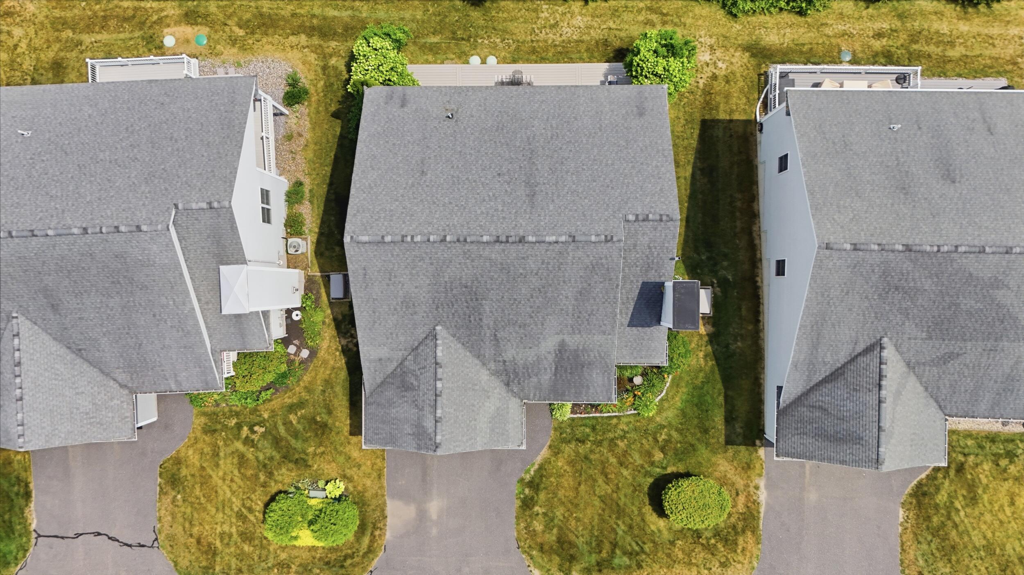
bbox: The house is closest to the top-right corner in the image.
[758,87,1024,465]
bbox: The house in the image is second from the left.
[344,86,701,455]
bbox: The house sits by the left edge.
[0,75,301,452]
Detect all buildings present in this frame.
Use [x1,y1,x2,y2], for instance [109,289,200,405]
[0,75,301,452]
[758,87,1024,465]
[344,86,701,455]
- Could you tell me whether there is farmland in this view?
No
